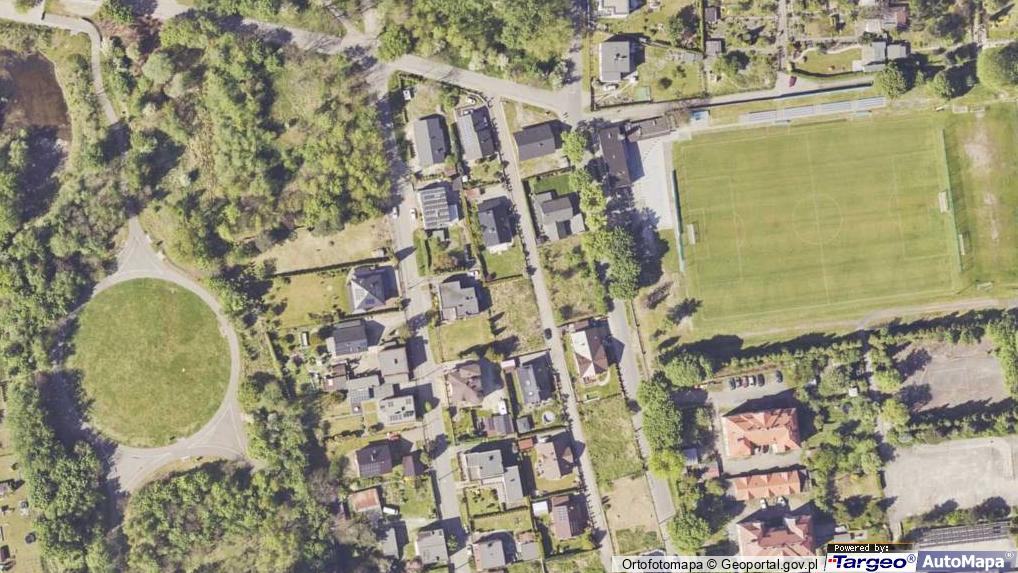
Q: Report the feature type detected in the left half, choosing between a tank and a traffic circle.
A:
traffic circle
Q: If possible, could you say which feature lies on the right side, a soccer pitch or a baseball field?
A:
soccer pitch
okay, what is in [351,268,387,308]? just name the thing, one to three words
house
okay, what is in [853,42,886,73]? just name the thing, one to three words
house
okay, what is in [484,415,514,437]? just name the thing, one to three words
shed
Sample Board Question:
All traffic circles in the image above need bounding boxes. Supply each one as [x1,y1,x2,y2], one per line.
[58,214,249,495]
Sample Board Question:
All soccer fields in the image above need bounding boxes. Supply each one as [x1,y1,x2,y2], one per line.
[677,115,958,325]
